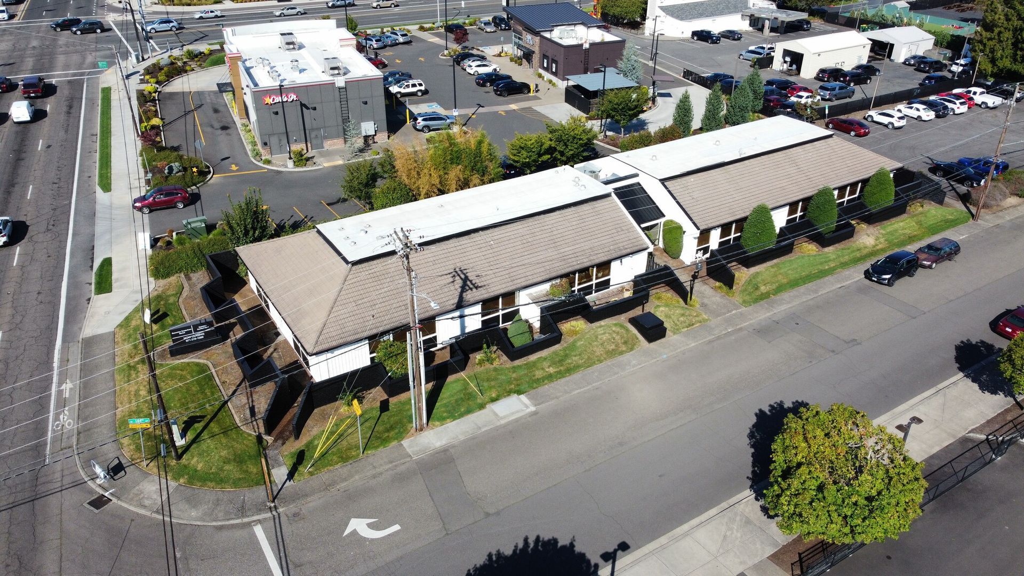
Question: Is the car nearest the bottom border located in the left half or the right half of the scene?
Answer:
right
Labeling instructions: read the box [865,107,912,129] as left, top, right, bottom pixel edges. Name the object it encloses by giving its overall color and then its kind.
white car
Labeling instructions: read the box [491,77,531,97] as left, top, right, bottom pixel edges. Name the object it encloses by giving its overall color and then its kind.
black car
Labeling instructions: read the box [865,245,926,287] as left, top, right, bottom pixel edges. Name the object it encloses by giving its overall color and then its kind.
black car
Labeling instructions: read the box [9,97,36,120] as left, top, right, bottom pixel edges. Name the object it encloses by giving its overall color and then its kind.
white vehicle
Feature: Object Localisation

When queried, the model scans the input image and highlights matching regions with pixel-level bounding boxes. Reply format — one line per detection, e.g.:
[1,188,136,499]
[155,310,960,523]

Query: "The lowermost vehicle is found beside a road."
[991,300,1024,335]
